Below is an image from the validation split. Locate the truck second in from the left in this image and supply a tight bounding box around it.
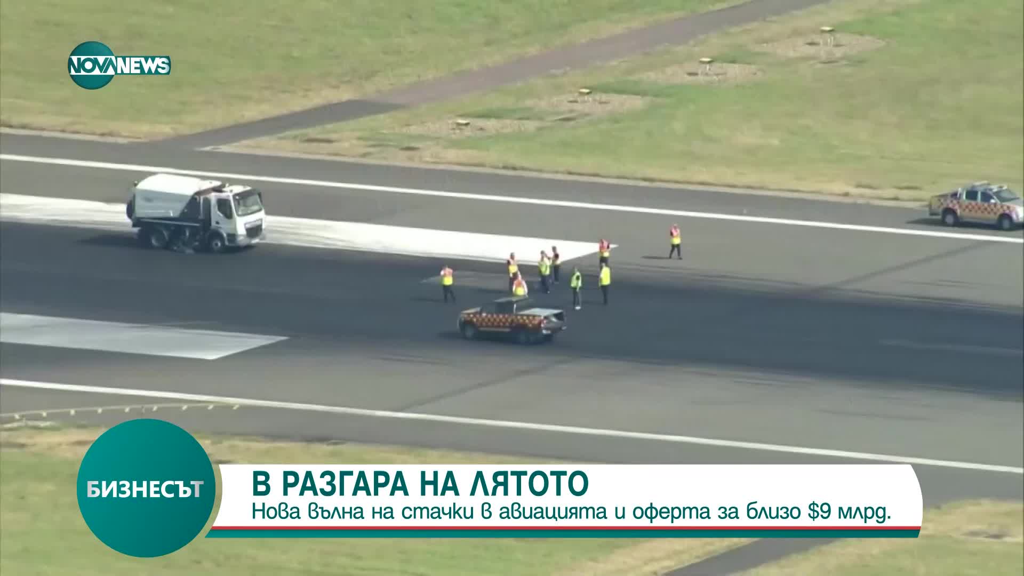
[451,298,570,343]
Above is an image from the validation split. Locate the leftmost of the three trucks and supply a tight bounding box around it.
[128,174,267,253]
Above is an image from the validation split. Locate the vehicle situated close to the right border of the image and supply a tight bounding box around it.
[926,175,1024,234]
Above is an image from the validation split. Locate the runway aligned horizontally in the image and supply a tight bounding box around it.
[0,134,1024,497]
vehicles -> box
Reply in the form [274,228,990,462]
[451,298,570,343]
[926,175,1024,234]
[128,174,267,253]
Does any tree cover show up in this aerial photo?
No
